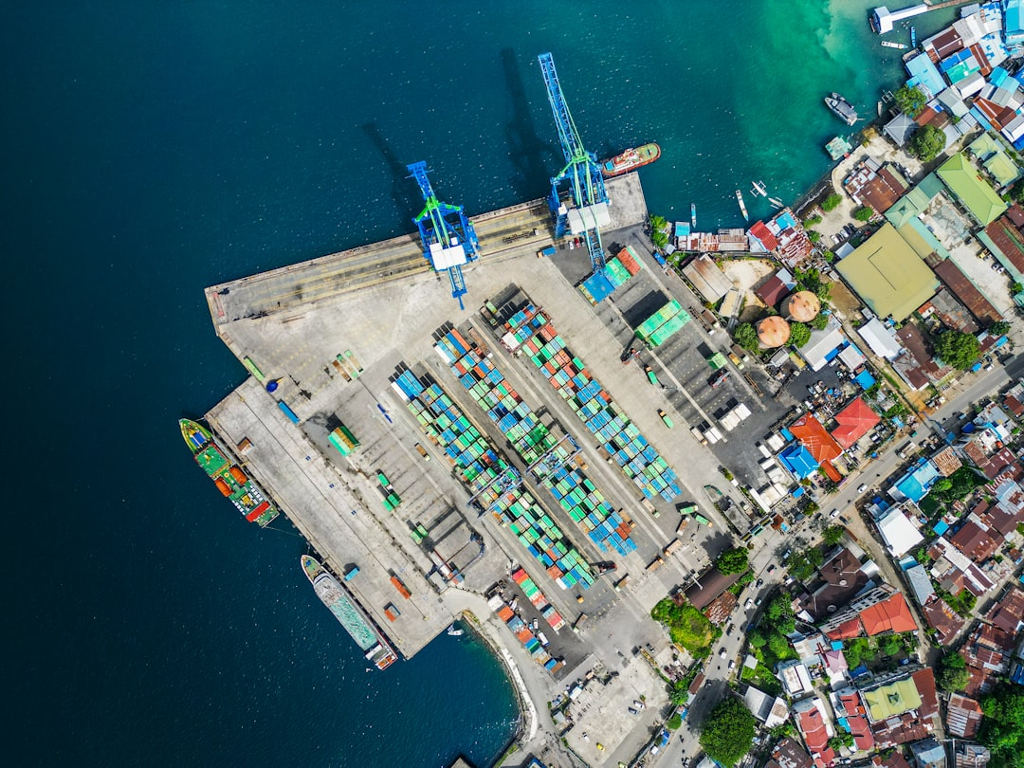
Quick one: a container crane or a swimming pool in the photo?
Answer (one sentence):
The one in the frame is a container crane.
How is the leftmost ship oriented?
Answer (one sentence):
The leftmost ship runs diagonally in the image.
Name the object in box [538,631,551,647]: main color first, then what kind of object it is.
white vehicle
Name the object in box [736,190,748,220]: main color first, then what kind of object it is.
white boat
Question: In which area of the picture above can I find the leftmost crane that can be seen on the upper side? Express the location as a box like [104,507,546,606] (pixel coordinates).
[406,160,483,311]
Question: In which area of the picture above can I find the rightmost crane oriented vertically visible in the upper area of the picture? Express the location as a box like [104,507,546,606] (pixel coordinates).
[538,48,612,279]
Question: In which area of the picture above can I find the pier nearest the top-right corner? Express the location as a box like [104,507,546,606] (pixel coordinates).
[871,0,957,35]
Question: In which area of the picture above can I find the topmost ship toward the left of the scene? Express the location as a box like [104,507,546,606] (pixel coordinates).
[179,420,278,527]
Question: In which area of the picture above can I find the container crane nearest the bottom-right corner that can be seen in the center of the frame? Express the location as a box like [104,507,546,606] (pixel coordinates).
[523,430,580,486]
